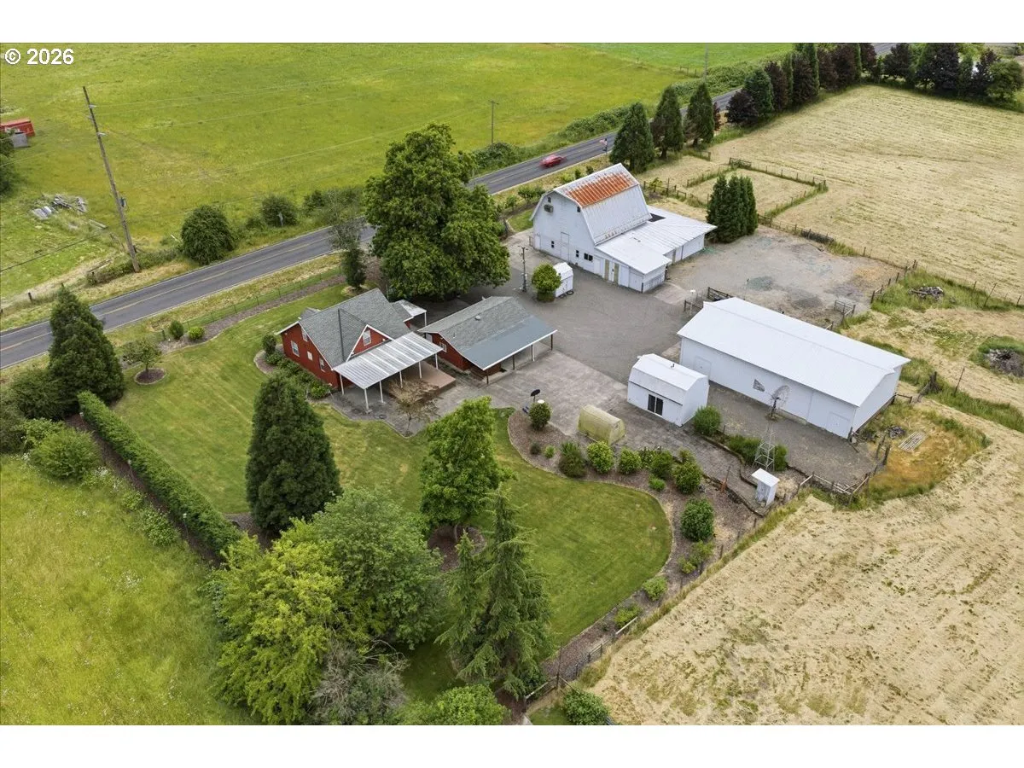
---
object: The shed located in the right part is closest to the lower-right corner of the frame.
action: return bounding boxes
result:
[748,464,784,502]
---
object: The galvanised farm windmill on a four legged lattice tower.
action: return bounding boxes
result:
[747,379,795,470]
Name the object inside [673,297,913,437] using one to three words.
shed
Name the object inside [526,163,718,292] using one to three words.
barn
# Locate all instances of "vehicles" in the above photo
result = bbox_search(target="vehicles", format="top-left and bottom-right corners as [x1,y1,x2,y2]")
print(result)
[543,155,569,169]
